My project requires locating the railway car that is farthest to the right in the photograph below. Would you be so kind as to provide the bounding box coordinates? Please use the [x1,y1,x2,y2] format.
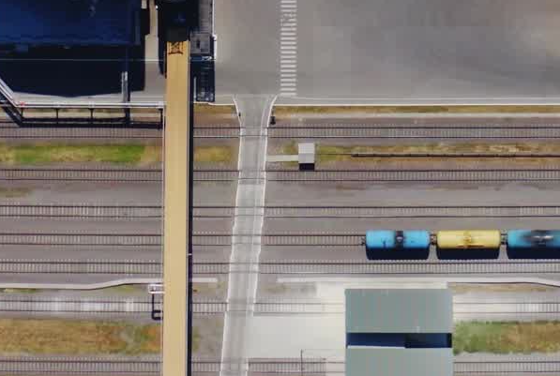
[503,231,560,249]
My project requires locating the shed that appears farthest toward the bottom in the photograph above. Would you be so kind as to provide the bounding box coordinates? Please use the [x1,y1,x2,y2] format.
[299,143,315,164]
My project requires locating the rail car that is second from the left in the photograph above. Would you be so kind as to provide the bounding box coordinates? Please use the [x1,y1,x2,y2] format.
[432,231,504,249]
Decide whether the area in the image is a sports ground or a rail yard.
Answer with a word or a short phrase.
rail yard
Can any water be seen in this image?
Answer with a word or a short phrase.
No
